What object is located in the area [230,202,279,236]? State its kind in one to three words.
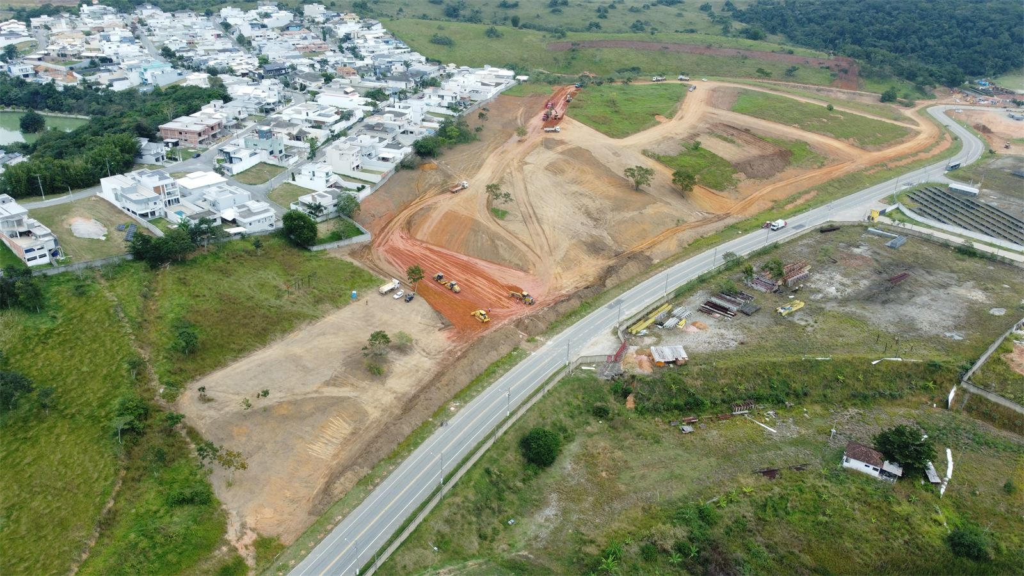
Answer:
house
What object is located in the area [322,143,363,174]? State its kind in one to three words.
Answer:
house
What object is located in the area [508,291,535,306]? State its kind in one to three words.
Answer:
work vehicle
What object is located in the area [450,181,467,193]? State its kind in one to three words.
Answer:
vehicle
